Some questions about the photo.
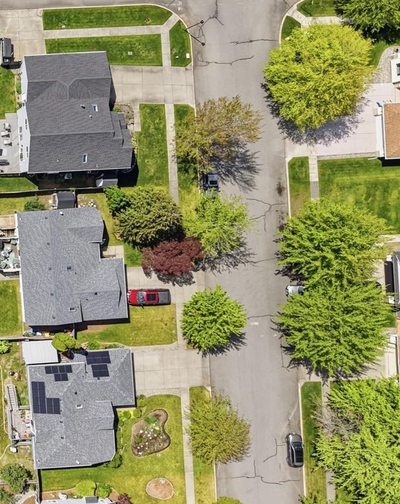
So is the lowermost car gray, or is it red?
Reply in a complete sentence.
The color of the lowermost car is gray.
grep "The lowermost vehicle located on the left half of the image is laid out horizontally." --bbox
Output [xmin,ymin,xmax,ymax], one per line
[129,288,173,307]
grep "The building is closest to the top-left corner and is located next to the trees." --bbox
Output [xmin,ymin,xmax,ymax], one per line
[18,50,134,173]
